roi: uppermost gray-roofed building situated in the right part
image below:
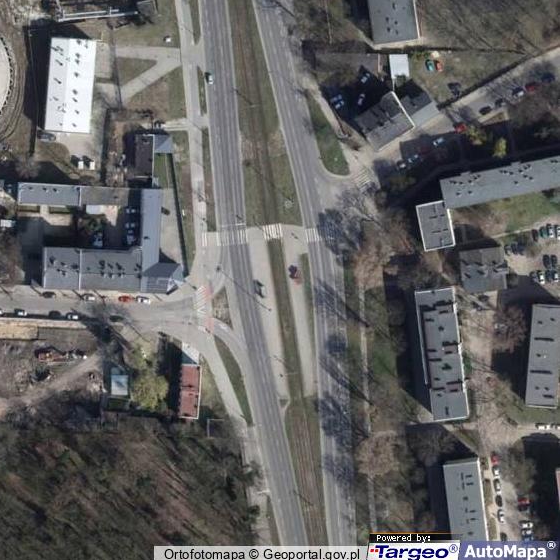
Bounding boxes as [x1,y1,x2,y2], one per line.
[366,0,420,44]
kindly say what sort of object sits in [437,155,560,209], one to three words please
building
